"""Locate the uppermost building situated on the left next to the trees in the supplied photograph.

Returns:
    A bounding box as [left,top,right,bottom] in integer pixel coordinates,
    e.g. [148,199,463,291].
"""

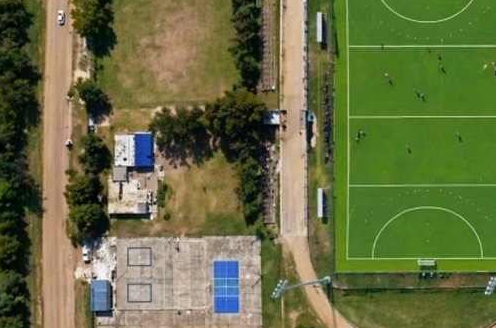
[114,133,163,182]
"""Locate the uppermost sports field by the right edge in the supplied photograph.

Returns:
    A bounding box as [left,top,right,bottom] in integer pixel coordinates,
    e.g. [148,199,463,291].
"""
[335,0,496,273]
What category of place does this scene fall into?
sports ground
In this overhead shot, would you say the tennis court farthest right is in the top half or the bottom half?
bottom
